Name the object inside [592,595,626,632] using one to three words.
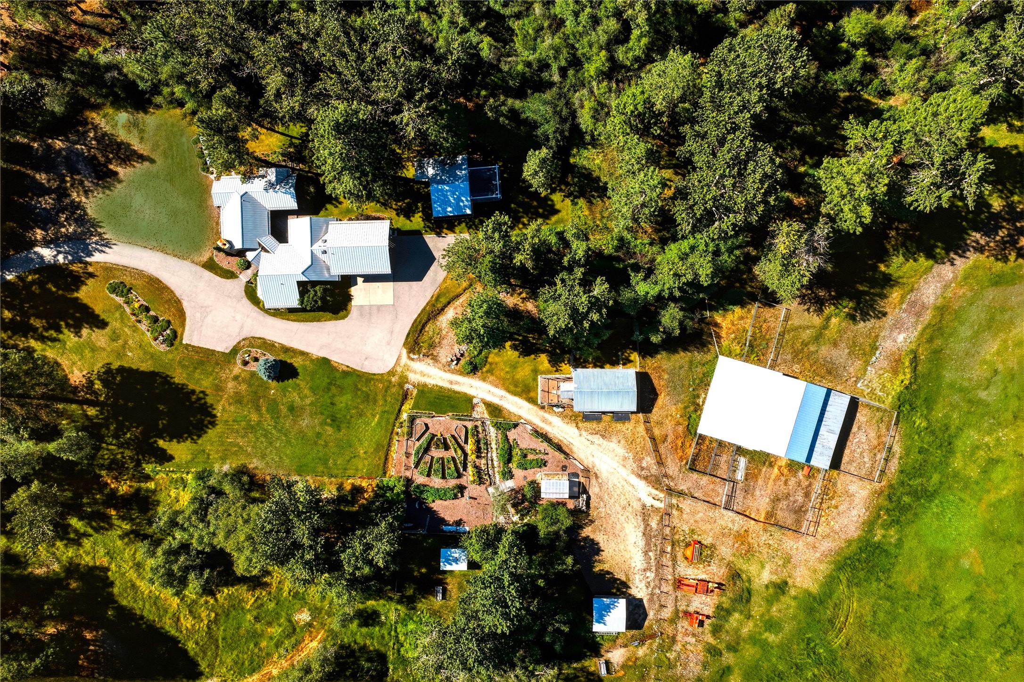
shed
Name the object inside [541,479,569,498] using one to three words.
greenhouse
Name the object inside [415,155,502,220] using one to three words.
building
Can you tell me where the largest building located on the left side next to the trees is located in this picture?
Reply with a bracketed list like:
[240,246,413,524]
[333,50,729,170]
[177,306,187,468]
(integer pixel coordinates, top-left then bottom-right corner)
[211,168,396,308]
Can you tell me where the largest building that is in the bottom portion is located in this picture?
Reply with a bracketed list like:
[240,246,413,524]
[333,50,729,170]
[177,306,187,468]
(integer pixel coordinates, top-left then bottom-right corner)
[697,355,850,469]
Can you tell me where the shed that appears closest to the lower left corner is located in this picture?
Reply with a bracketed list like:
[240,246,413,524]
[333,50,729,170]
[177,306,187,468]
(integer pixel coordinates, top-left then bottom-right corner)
[441,546,467,570]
